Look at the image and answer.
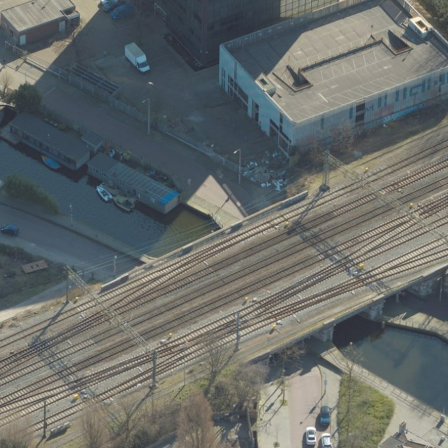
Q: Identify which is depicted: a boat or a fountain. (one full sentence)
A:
The one in the frame is a boat.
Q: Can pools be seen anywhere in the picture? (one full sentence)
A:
No, I can see no pool in this picture.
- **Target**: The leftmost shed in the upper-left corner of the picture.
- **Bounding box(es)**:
[0,0,81,43]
